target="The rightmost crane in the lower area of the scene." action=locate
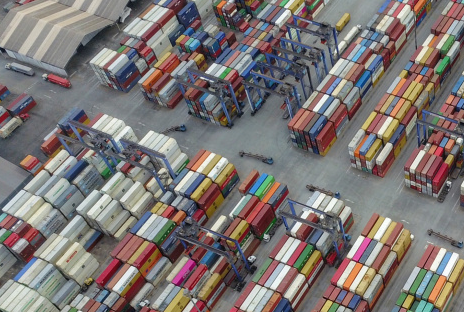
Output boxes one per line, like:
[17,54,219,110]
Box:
[277,197,349,266]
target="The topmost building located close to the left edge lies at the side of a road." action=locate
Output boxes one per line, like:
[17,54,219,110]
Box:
[0,0,152,76]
